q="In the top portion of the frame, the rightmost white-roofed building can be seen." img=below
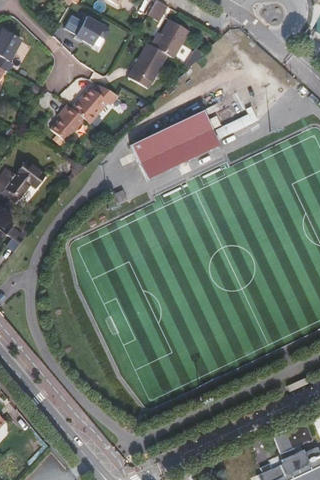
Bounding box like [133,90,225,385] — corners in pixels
[216,107,258,140]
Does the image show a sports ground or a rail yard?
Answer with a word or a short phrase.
sports ground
